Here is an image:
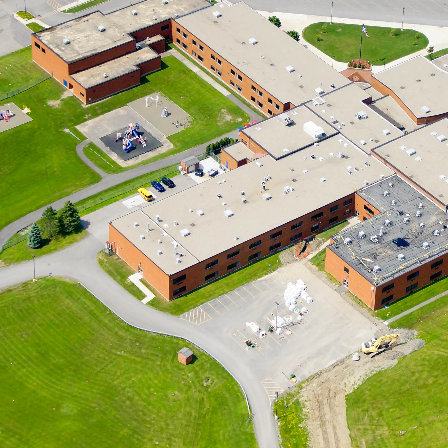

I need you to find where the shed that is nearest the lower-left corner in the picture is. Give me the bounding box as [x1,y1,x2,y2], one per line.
[174,345,196,366]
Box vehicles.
[358,330,404,359]
[159,175,177,187]
[136,187,154,200]
[150,181,166,192]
